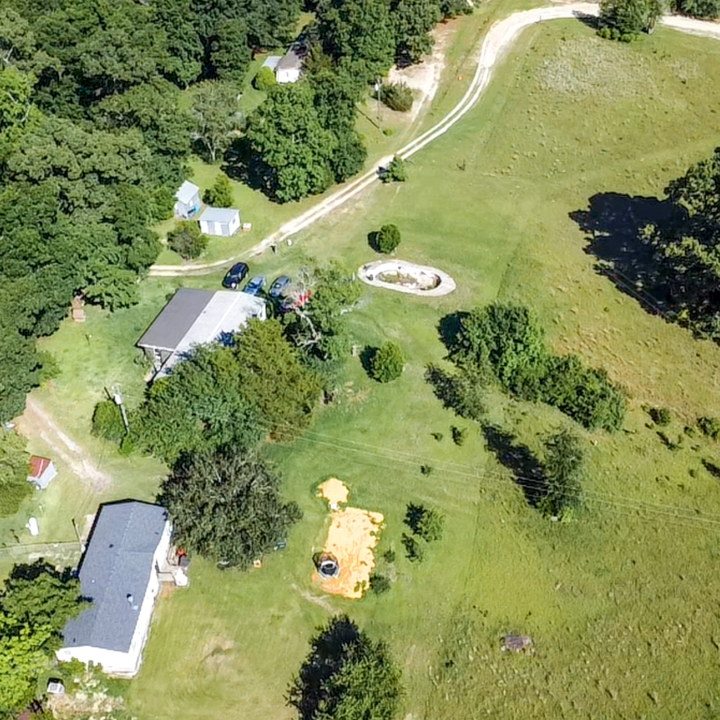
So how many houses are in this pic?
three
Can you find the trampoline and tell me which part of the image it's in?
bottom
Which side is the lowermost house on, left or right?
left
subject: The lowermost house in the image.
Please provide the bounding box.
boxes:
[58,502,171,678]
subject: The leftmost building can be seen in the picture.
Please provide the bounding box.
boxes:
[26,461,59,491]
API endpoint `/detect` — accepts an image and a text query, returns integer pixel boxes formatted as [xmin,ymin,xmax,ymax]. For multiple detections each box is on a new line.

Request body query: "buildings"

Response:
[140,278,264,398]
[26,461,59,491]
[266,44,311,87]
[199,207,234,237]
[58,502,171,678]
[175,180,202,217]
